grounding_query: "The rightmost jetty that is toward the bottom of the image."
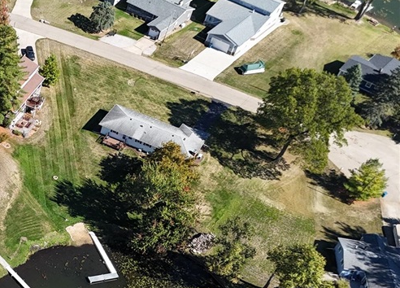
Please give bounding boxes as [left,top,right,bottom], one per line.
[87,231,120,284]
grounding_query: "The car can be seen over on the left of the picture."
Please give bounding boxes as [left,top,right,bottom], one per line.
[24,43,39,61]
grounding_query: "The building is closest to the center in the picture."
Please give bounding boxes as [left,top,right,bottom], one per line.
[99,103,203,162]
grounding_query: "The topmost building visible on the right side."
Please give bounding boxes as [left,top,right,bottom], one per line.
[206,0,289,54]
